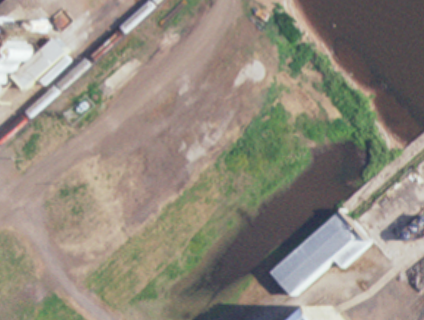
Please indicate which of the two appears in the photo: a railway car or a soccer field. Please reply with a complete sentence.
There is a railway car in the scene.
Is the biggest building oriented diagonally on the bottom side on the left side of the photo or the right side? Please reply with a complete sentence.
The biggest building oriented diagonally on the bottom side is on the right side of the image.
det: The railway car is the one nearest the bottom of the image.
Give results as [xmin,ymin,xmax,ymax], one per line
[22,89,60,120]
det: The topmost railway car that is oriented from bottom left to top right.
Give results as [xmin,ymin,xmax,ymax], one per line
[120,0,156,34]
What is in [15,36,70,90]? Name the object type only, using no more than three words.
shed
